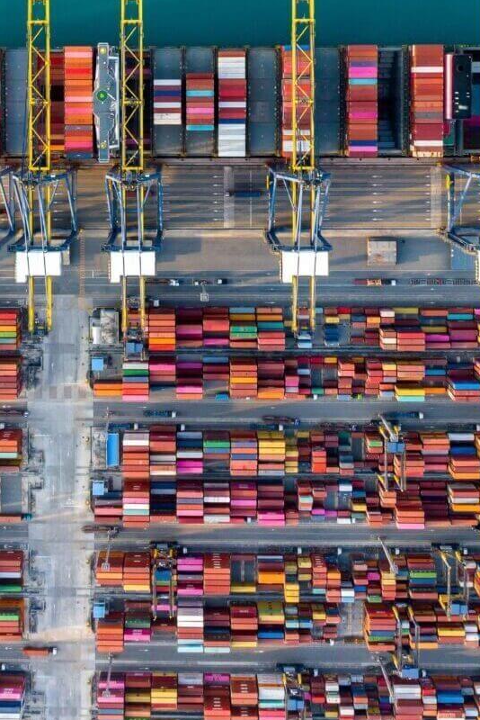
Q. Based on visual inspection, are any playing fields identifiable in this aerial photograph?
No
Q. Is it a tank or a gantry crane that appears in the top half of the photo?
gantry crane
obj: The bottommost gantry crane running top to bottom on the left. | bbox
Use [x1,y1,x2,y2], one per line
[152,539,177,620]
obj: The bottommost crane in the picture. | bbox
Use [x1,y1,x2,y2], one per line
[277,659,305,720]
